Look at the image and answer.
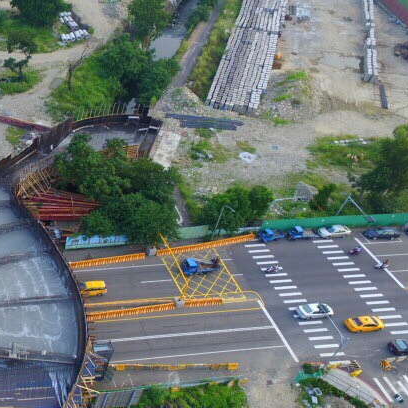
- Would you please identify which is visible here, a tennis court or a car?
car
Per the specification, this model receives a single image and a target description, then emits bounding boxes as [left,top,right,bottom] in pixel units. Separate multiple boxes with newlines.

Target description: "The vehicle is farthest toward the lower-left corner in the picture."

[79,280,108,299]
